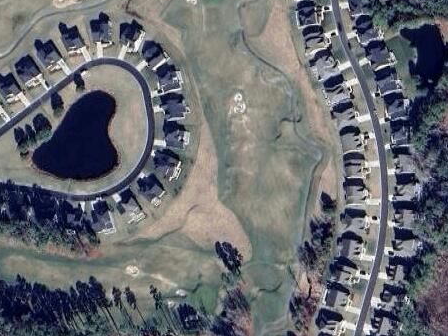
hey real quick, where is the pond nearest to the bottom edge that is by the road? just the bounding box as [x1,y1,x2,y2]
[32,90,118,181]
